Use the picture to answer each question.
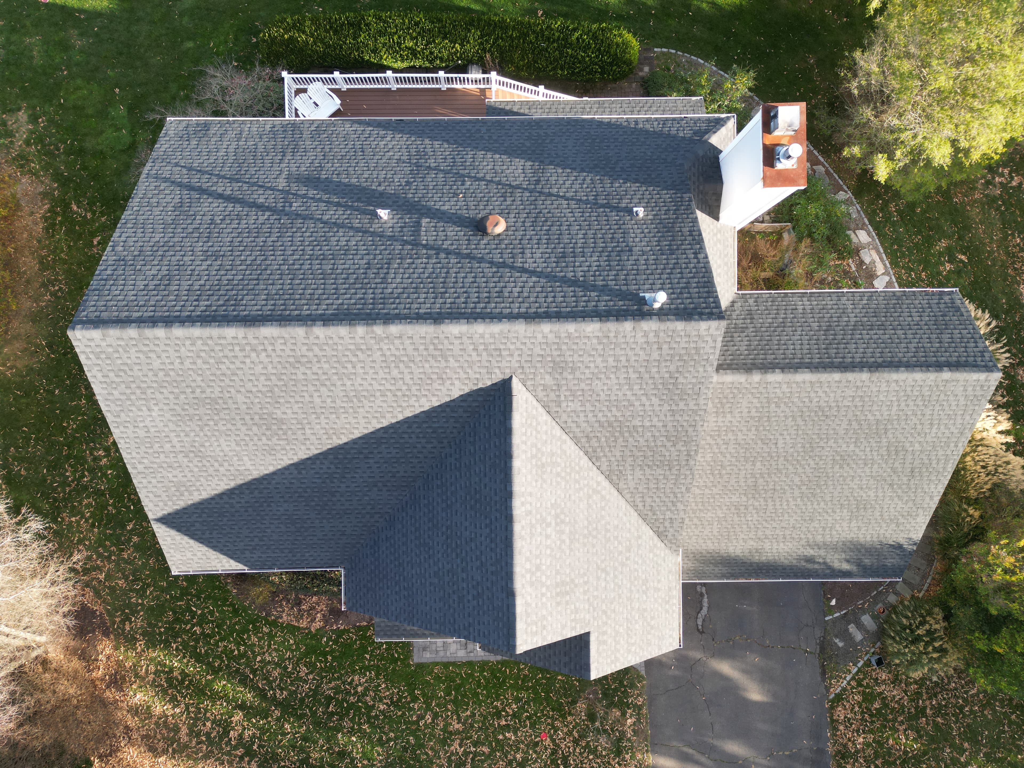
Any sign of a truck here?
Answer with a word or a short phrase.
No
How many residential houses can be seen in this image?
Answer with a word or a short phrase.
1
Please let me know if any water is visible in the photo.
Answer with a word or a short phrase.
No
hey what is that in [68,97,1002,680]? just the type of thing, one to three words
house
